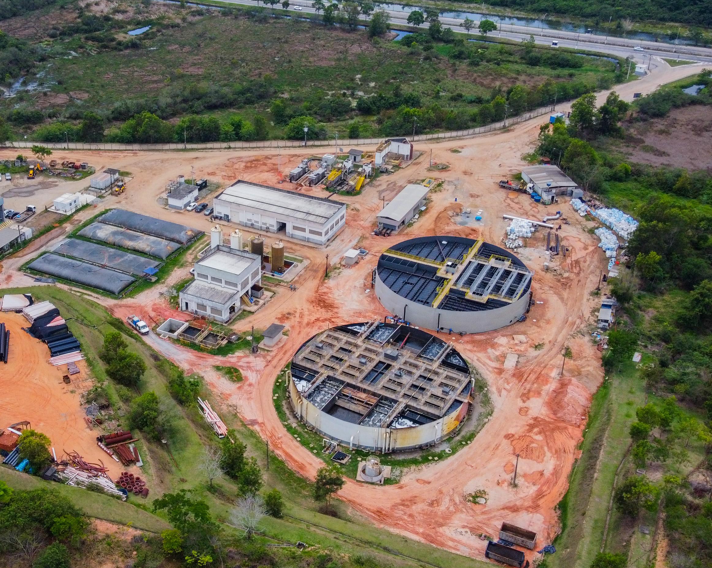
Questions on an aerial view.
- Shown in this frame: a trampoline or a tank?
tank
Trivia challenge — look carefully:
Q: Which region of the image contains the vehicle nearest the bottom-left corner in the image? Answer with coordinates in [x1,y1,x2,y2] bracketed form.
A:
[125,310,150,331]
